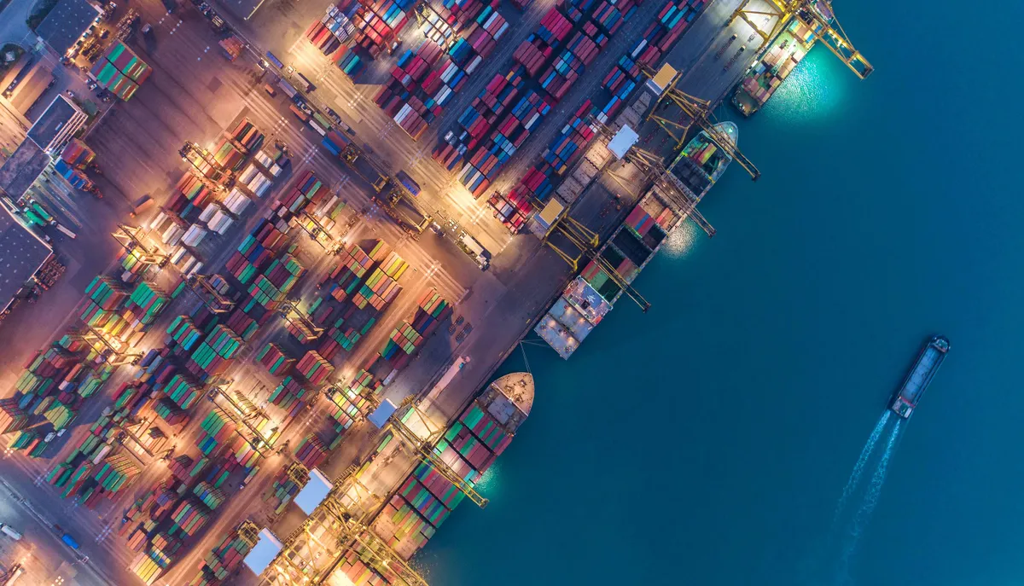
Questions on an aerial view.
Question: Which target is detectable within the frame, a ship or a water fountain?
ship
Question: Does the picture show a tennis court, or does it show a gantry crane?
gantry crane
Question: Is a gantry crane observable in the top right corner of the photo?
Yes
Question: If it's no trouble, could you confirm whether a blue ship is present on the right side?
Yes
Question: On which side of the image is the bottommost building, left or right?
left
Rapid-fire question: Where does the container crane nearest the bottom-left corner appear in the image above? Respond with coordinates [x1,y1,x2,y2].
[118,427,179,468]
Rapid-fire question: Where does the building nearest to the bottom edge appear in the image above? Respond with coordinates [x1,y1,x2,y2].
[0,196,60,314]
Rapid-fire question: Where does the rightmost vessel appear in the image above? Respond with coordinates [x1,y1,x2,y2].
[890,337,947,418]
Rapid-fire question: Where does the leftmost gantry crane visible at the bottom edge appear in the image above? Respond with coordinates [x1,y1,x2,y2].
[240,524,339,586]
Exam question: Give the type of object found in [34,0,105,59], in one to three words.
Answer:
building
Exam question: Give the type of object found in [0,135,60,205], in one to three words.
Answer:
building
